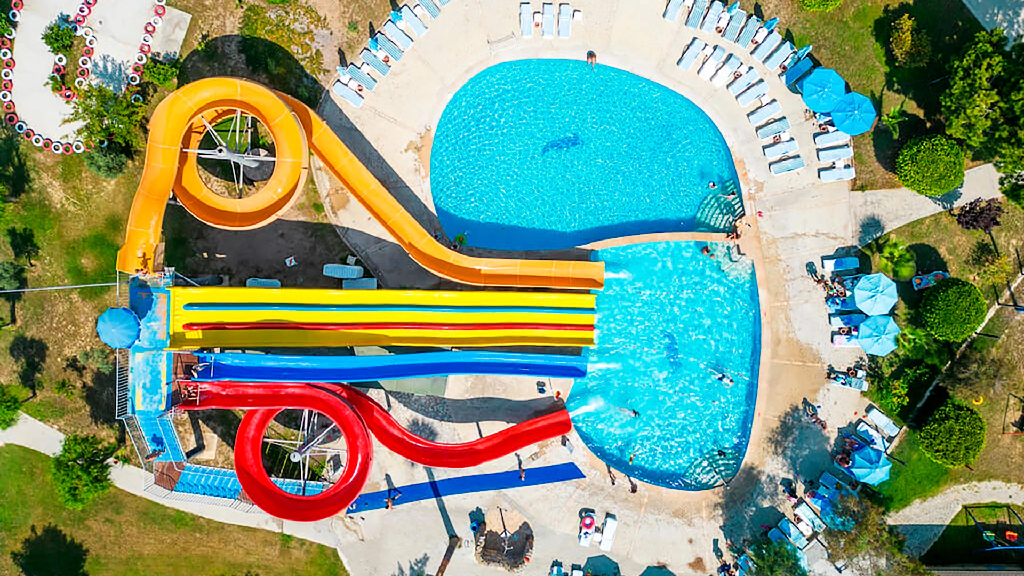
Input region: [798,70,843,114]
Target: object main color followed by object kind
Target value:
blue umbrella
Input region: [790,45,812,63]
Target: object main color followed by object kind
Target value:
blue umbrella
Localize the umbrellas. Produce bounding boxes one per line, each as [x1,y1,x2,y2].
[850,272,894,316]
[853,314,895,354]
[827,94,871,137]
[101,306,149,348]
[790,45,812,63]
[722,1,740,20]
[798,70,843,114]
[761,17,779,34]
[392,9,407,28]
[369,37,383,53]
[837,438,887,487]
[335,64,351,83]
